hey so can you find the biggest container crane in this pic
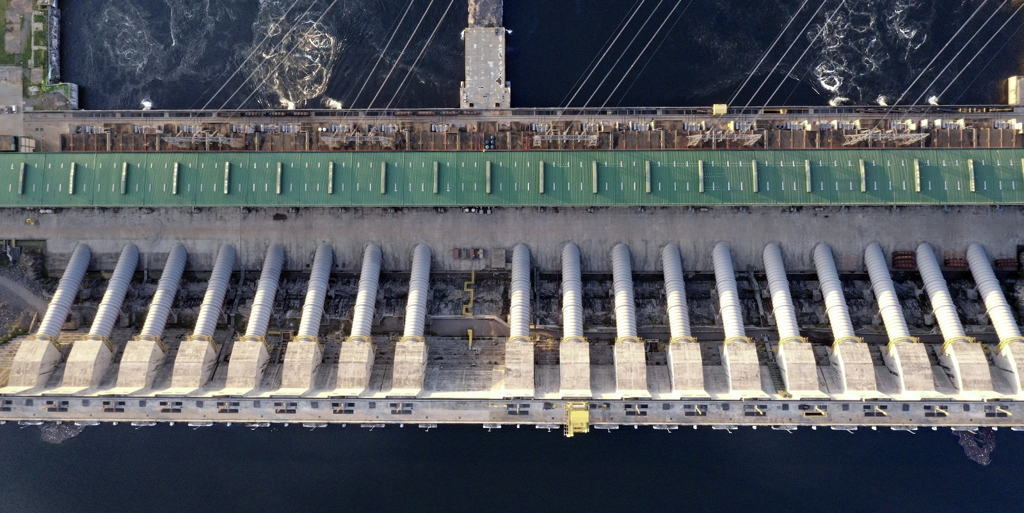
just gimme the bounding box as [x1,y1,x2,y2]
[565,400,590,436]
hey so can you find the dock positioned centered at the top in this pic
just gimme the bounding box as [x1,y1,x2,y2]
[460,27,511,108]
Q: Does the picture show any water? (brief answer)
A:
Yes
